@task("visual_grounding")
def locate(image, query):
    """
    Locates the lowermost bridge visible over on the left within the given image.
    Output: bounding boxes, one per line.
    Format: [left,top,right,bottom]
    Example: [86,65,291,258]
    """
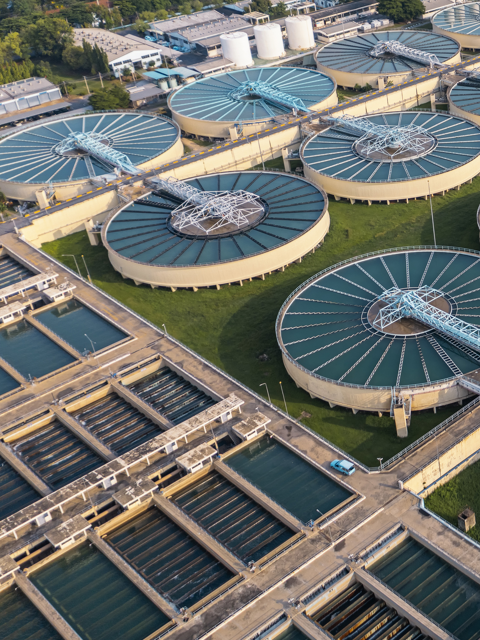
[150,177,214,212]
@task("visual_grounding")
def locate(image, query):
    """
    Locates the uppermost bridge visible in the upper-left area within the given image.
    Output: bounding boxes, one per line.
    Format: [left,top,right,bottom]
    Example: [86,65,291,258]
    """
[76,132,140,173]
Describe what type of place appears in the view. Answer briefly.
industrial area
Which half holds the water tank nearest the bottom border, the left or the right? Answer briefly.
right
